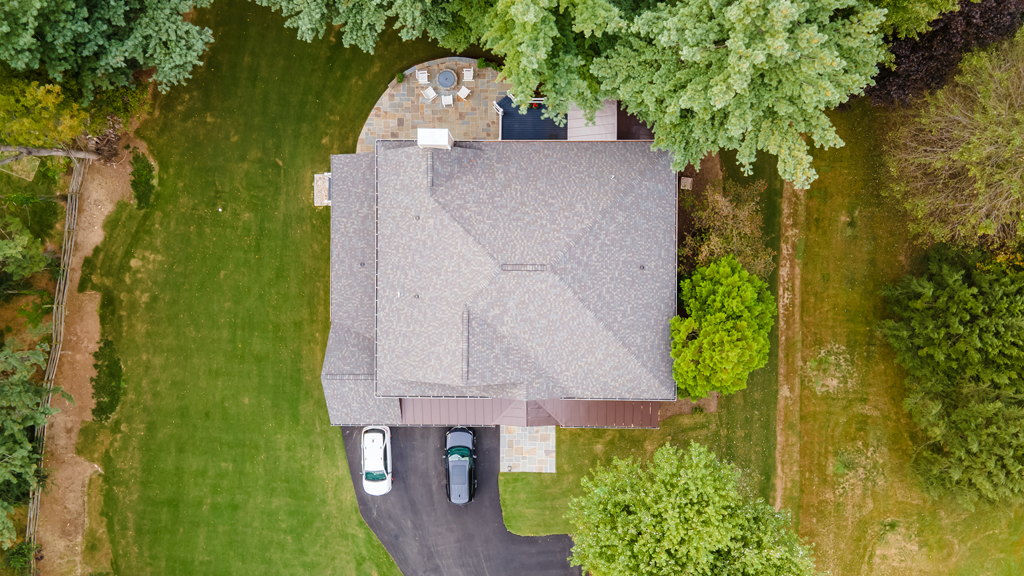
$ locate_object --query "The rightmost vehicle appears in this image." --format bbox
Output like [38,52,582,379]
[443,429,478,505]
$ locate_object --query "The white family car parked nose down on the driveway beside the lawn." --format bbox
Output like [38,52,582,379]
[359,428,394,495]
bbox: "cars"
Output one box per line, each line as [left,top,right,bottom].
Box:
[359,428,394,495]
[443,429,478,505]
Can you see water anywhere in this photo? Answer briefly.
No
